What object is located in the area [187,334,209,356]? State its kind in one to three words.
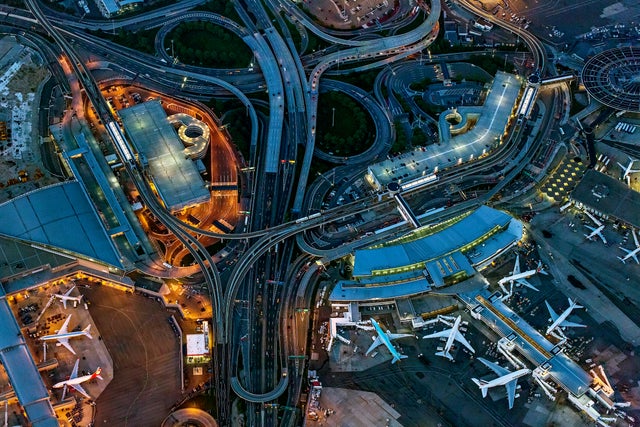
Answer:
building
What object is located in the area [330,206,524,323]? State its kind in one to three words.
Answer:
building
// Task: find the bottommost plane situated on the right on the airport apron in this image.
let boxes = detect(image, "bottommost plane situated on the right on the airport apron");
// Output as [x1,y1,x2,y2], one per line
[471,345,531,410]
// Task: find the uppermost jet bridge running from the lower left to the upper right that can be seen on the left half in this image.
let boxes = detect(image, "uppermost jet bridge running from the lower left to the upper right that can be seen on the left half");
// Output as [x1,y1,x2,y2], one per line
[34,294,56,324]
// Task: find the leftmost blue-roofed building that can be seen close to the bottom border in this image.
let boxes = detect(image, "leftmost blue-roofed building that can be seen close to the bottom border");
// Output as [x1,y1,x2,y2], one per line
[0,299,62,427]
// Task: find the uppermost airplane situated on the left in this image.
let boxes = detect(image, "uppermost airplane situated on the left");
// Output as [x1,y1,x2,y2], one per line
[55,284,83,309]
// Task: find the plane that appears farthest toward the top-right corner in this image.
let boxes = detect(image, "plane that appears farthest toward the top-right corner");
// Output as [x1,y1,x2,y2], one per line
[616,155,640,180]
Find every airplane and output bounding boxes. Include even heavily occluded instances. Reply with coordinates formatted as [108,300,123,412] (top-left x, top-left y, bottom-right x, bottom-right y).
[582,223,604,244]
[369,319,410,364]
[40,313,92,356]
[616,242,640,268]
[426,316,474,359]
[55,284,83,309]
[544,295,588,334]
[616,155,640,180]
[498,250,549,293]
[471,345,531,410]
